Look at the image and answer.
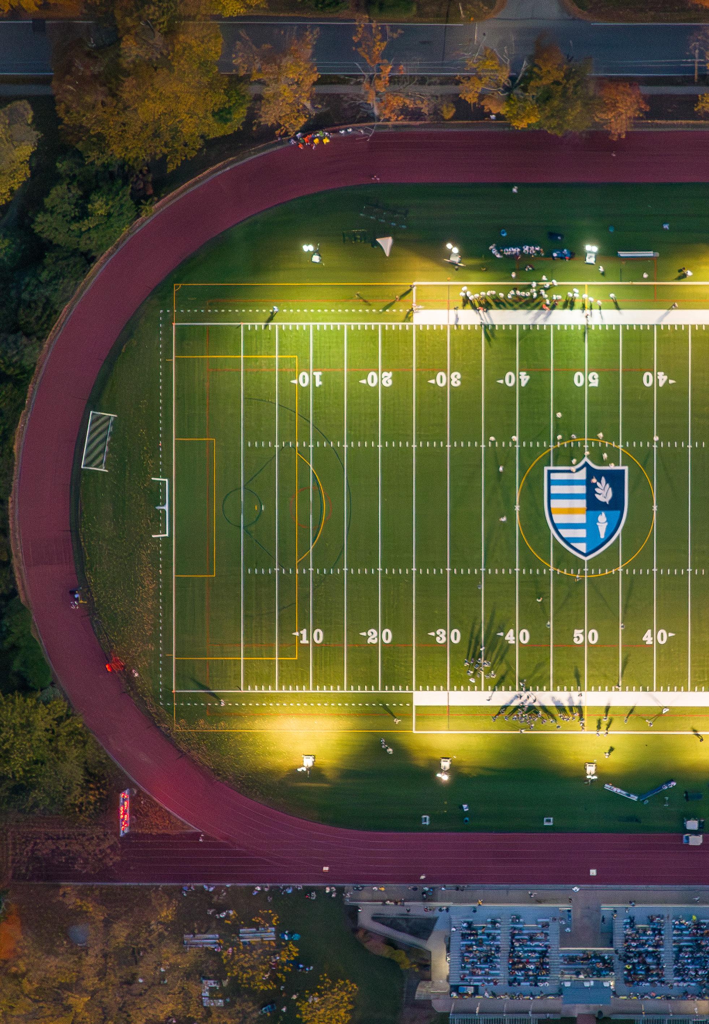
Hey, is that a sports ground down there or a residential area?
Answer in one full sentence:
The picture captures a sports ground.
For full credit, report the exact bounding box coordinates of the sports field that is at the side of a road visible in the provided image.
[70,182,709,832]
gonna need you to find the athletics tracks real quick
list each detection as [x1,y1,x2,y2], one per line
[8,129,709,887]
